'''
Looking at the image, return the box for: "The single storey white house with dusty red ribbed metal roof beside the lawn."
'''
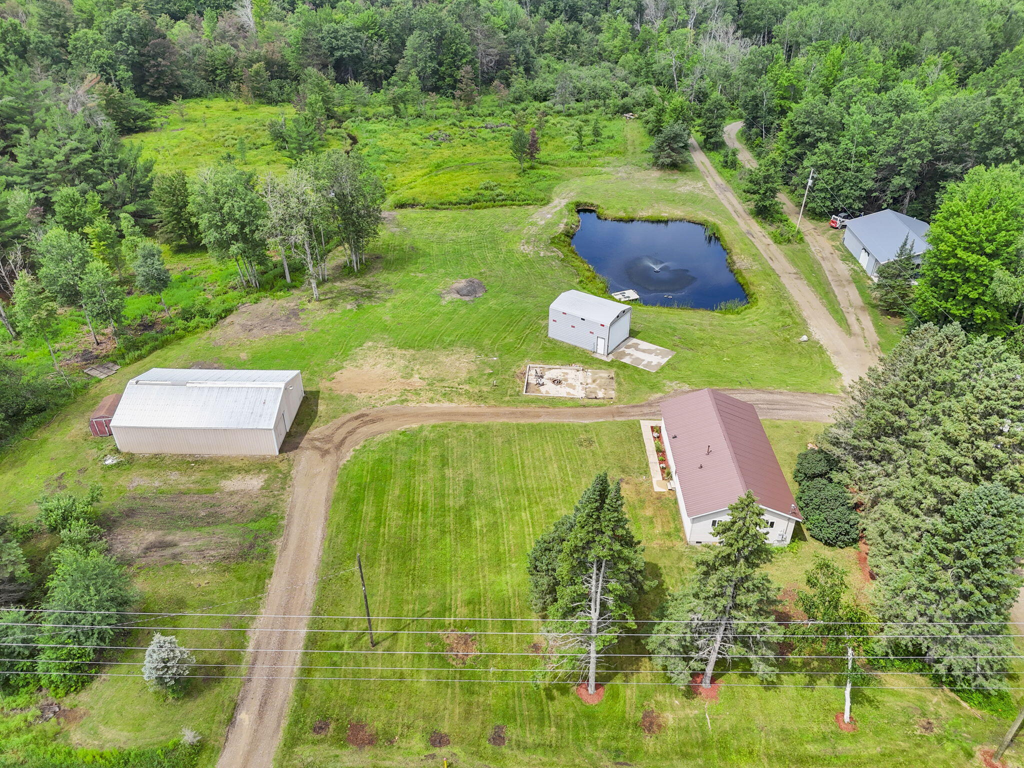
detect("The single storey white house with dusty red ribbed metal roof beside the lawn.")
[659,387,803,545]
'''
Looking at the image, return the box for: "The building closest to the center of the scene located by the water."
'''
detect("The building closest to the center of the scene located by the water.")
[548,291,632,356]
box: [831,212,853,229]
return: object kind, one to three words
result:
work vehicle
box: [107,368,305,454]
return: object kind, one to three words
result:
barn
